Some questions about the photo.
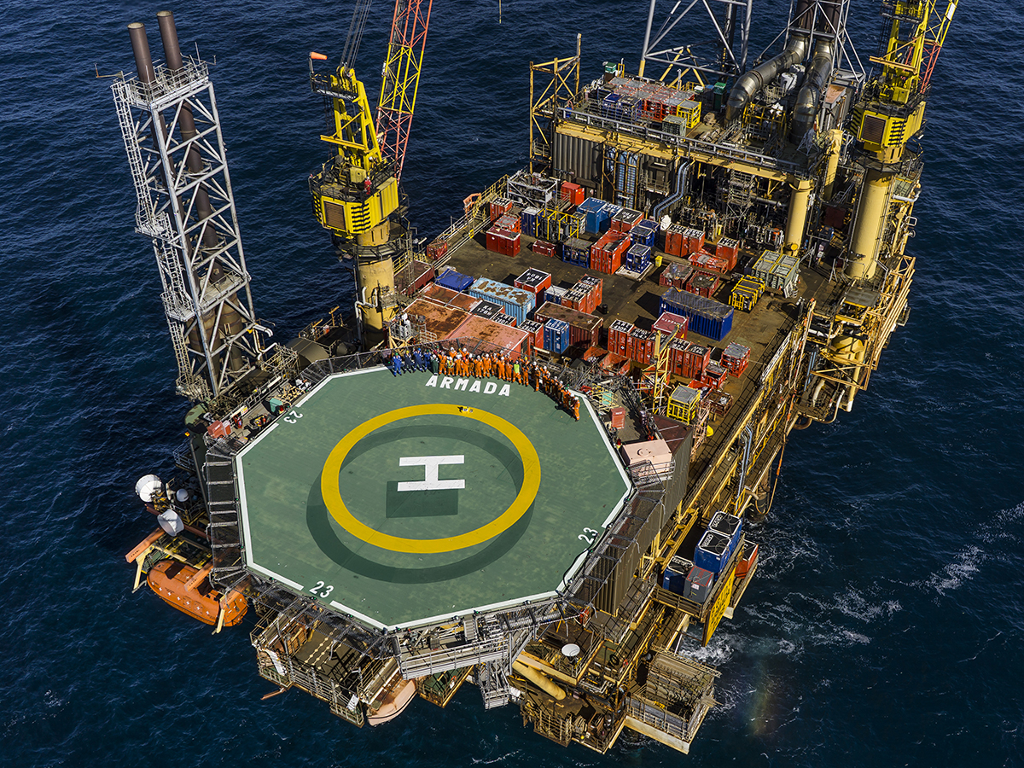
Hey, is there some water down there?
Yes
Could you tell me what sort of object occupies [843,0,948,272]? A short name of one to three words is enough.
crane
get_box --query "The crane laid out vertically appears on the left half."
[304,0,434,337]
